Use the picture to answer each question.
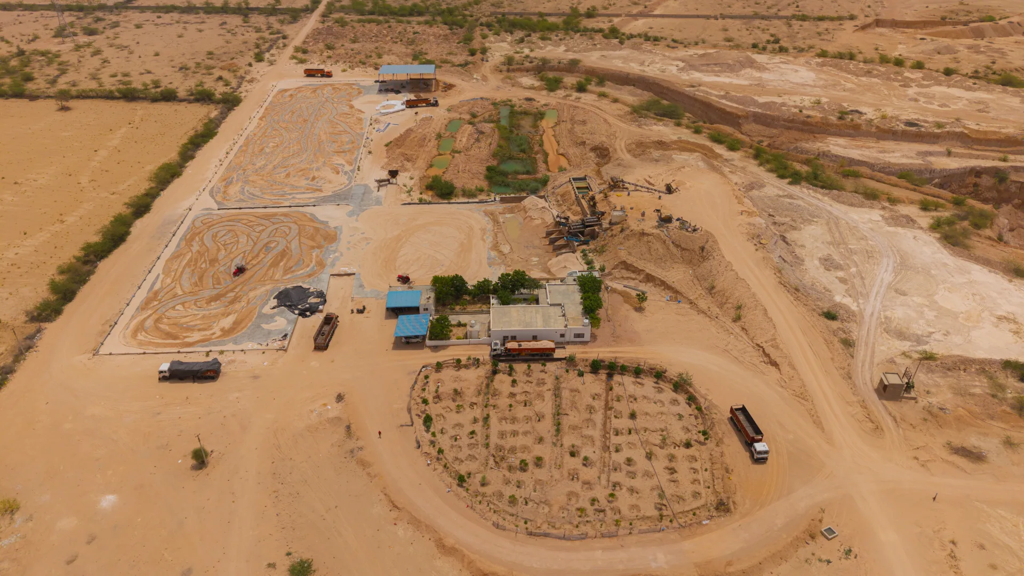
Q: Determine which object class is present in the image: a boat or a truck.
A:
truck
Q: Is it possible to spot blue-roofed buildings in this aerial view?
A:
Yes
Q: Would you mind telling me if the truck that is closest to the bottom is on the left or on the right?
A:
right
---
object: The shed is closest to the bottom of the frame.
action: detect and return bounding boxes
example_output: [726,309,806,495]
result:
[878,371,918,399]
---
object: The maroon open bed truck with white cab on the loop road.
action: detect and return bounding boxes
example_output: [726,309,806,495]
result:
[733,405,775,460]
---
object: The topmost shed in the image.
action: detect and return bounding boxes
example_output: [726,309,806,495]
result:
[375,62,440,92]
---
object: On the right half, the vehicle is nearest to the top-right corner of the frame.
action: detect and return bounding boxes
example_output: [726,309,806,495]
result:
[648,197,672,224]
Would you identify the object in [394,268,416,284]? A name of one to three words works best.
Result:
work vehicle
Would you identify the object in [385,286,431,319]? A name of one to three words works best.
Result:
building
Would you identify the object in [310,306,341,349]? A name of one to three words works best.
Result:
truck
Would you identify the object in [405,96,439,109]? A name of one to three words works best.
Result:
vehicle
